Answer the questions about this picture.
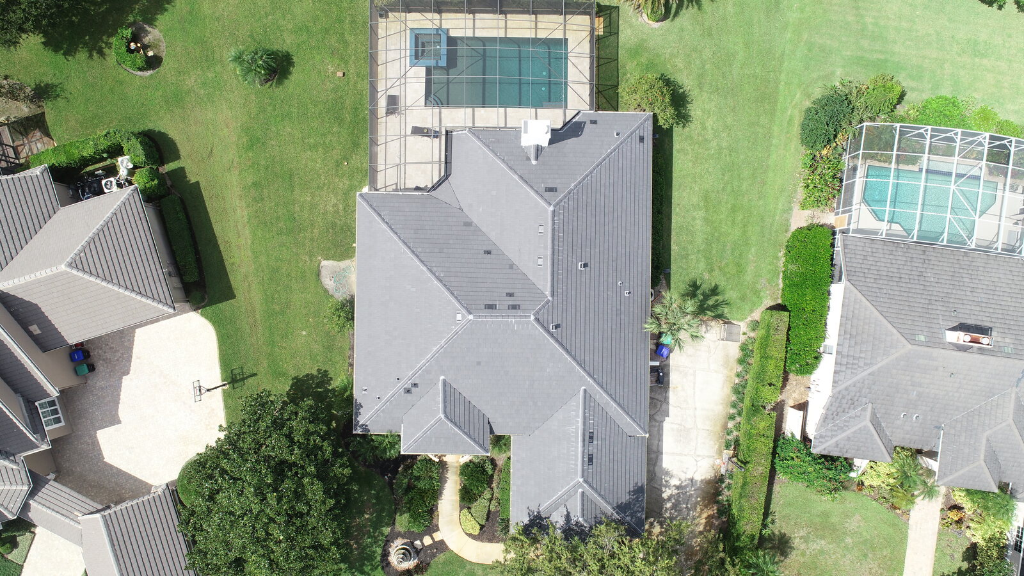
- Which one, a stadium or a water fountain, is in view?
water fountain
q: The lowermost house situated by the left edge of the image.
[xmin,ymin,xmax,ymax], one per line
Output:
[0,163,206,576]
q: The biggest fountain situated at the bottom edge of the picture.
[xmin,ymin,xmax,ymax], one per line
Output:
[386,539,418,572]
